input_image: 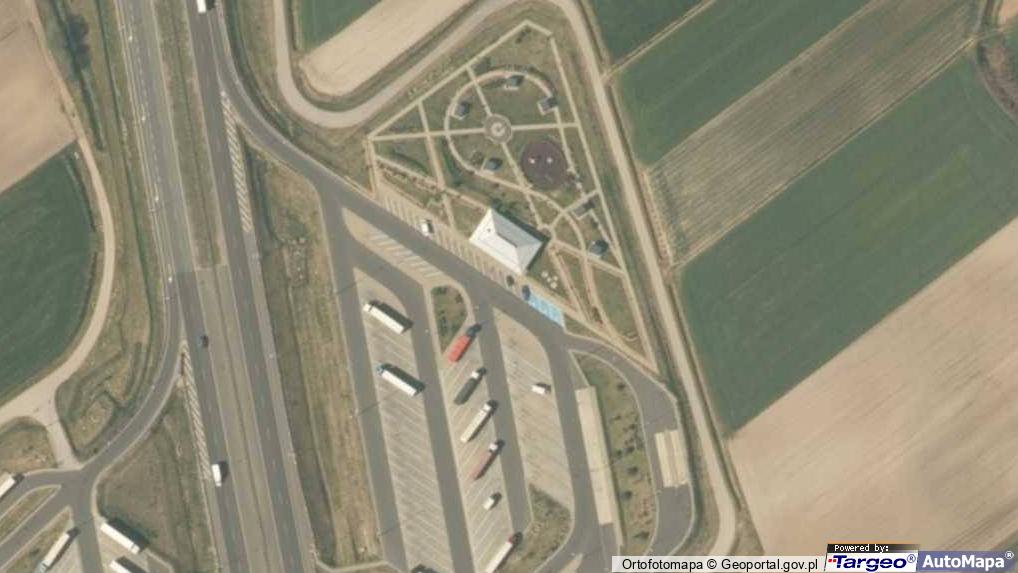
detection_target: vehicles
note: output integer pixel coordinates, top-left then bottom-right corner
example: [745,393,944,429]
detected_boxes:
[376,366,416,396]
[107,560,130,573]
[212,464,223,486]
[523,286,531,300]
[483,493,496,509]
[470,443,499,481]
[484,535,517,573]
[196,0,206,12]
[507,275,514,287]
[422,221,429,235]
[201,334,208,348]
[532,385,548,395]
[0,478,14,496]
[453,369,482,407]
[363,302,404,334]
[449,323,480,363]
[34,534,70,573]
[460,403,493,444]
[98,523,139,554]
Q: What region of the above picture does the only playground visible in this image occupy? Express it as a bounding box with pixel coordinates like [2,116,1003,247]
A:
[522,144,567,189]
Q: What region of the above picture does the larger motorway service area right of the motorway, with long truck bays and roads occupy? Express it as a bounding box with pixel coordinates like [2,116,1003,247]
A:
[227,39,696,573]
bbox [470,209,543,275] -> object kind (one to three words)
building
